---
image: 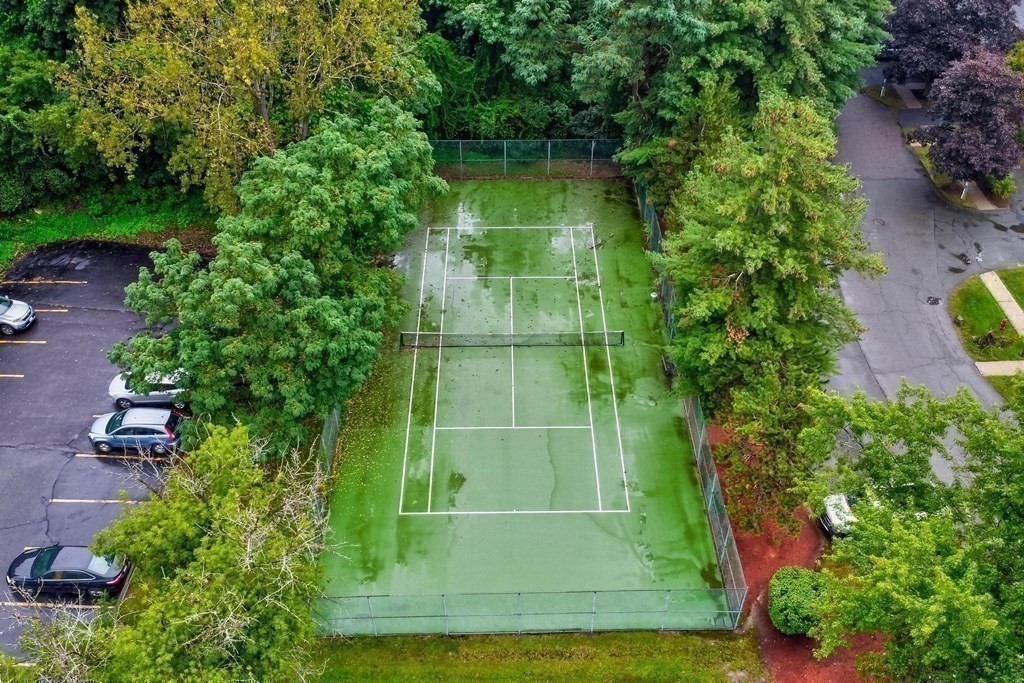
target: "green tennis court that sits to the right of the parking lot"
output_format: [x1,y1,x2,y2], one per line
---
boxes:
[304,177,732,634]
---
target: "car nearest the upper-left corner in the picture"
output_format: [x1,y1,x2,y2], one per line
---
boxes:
[0,297,39,336]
